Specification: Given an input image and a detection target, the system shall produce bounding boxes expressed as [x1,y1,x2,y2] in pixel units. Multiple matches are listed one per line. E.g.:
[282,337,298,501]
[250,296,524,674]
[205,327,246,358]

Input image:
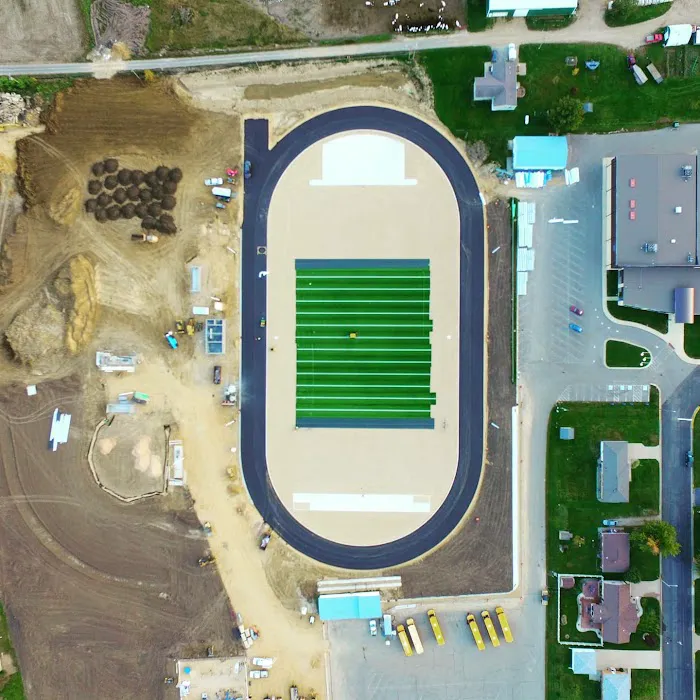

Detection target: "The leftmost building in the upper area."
[474,59,517,108]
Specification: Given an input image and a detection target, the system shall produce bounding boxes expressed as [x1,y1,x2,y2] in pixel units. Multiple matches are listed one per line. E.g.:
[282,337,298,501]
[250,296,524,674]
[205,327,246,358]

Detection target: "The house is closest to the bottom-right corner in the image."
[600,668,630,700]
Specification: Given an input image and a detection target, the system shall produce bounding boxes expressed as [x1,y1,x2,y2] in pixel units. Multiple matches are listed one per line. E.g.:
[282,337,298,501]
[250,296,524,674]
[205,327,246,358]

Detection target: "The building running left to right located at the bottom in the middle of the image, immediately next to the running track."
[319,589,382,621]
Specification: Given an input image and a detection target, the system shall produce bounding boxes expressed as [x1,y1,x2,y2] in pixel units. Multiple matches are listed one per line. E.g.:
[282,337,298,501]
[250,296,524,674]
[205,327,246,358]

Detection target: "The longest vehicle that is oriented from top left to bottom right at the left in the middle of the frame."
[165,333,179,350]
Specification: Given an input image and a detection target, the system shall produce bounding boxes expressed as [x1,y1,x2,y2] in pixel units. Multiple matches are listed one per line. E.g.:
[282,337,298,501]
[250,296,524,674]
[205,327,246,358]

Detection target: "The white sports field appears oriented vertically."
[266,130,459,546]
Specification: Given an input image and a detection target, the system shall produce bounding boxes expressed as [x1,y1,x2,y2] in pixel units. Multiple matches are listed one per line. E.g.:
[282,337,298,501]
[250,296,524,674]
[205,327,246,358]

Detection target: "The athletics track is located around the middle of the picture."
[241,106,483,569]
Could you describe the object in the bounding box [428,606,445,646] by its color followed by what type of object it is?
yellow vehicle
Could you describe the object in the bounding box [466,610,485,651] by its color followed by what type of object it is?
yellow vehicle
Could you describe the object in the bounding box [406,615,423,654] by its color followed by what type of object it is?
white vehicle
